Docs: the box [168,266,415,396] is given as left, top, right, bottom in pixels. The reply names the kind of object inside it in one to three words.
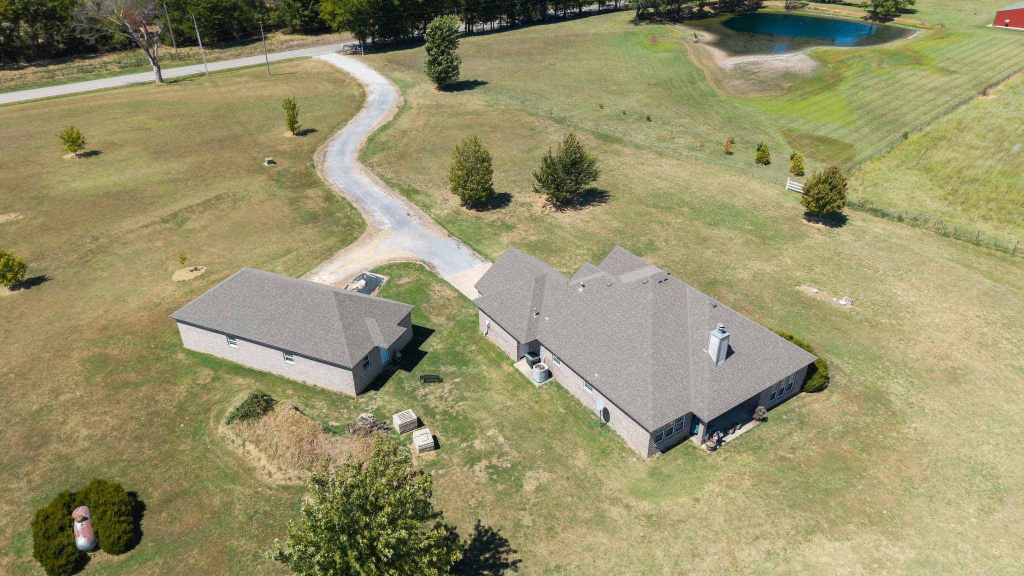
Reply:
shed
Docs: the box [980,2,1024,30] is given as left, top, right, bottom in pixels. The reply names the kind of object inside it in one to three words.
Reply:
barn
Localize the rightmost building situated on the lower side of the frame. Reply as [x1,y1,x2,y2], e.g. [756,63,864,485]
[472,245,820,458]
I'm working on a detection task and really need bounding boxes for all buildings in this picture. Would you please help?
[168,266,415,396]
[472,245,820,458]
[980,2,1024,30]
